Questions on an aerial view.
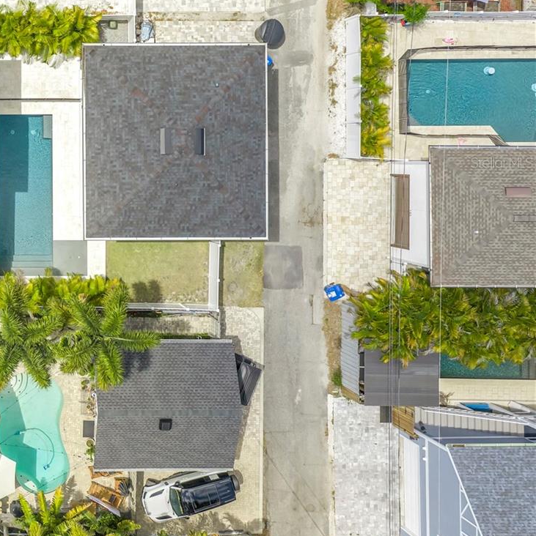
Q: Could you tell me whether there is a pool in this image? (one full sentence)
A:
Yes, there's a pool down there.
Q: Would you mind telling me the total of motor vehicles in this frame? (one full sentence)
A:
There are 2 motor vehicles in the image.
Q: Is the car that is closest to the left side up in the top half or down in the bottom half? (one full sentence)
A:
Seen from above, the car that is closest to the left side lies in the bottom half of the view.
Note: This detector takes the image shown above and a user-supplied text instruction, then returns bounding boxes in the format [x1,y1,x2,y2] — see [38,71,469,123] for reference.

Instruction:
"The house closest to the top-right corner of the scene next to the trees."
[388,144,536,289]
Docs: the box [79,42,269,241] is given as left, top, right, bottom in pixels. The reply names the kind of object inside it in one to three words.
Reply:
house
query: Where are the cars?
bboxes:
[236,356,270,404]
[140,472,239,521]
